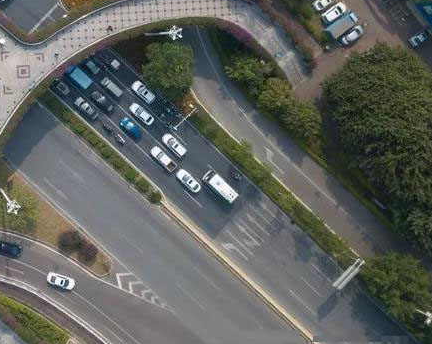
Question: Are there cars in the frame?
Yes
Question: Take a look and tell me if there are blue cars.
Yes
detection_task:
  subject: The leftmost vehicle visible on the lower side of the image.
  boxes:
[0,240,23,256]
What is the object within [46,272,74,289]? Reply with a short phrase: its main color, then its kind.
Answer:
white car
